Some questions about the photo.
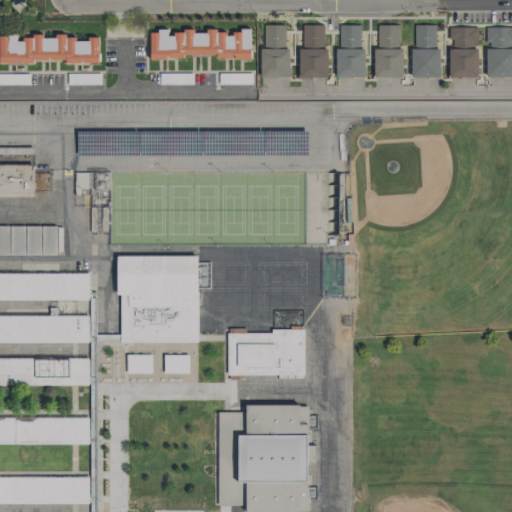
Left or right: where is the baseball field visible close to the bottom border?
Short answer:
right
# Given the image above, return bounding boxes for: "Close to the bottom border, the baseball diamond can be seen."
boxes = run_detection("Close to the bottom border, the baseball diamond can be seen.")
[353,332,512,512]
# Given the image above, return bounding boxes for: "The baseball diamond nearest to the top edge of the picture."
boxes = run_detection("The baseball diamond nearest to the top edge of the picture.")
[350,118,512,332]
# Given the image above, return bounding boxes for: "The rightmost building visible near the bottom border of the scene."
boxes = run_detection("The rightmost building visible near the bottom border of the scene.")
[219,405,316,512]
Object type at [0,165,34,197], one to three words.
building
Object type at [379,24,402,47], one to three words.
house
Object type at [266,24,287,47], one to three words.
house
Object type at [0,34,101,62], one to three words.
building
